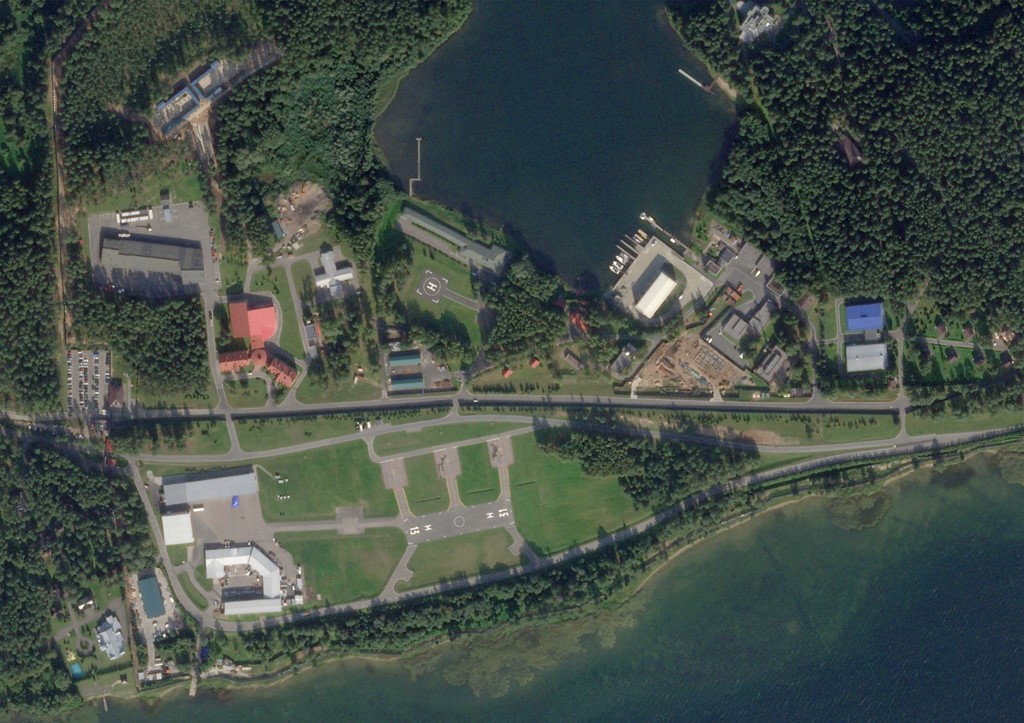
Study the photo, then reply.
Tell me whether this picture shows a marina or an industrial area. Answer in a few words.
marina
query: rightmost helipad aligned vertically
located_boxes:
[487,436,514,501]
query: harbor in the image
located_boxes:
[613,236,713,329]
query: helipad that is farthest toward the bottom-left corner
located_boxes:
[381,458,415,519]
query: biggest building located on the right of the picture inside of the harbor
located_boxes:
[635,272,678,319]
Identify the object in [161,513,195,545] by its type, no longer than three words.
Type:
hangar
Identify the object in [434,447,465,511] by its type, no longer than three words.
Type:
helipad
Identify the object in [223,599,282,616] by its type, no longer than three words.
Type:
building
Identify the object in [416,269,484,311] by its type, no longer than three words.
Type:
helipad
